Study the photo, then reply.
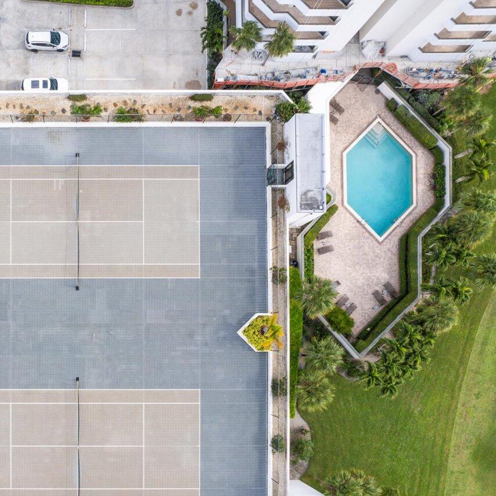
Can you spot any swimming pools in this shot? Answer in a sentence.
Yes, there's a swimming pool here.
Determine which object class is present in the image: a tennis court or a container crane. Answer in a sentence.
The one in the frame is a tennis court.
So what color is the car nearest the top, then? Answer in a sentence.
The car nearest the top looks white in the image.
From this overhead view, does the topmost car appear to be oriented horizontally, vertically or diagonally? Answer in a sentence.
The topmost car runs horizontally in the image.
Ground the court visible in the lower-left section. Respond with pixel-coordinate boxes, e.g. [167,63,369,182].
[0,390,199,496]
